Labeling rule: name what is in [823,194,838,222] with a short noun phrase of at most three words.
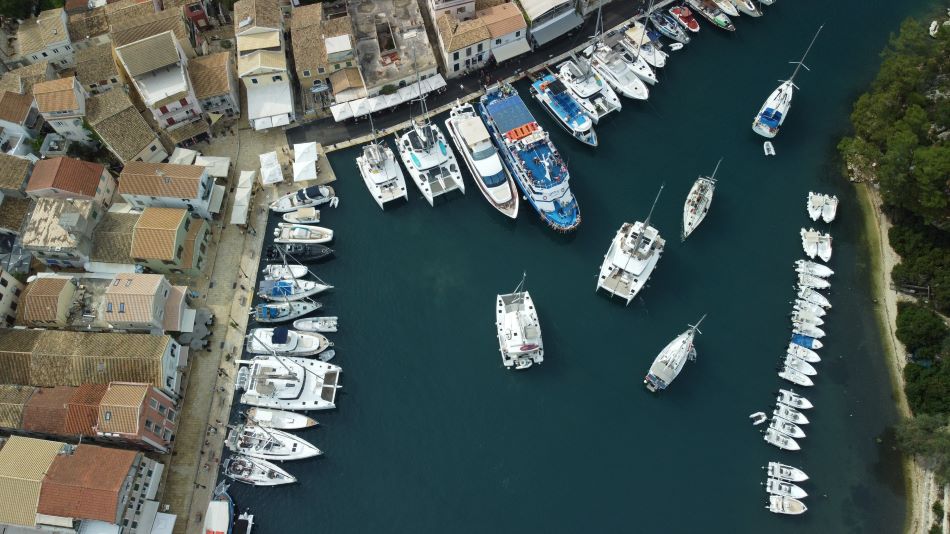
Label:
boat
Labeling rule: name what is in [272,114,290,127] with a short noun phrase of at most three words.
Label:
umbrella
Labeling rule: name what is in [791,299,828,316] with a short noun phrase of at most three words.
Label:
boat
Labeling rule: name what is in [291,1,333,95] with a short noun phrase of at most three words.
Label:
house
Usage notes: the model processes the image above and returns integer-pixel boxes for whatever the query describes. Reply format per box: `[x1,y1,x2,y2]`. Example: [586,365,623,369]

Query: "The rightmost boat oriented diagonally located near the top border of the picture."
[753,24,830,140]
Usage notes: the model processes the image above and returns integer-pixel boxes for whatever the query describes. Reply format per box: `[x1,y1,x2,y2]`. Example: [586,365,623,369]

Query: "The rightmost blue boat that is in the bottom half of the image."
[788,333,824,350]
